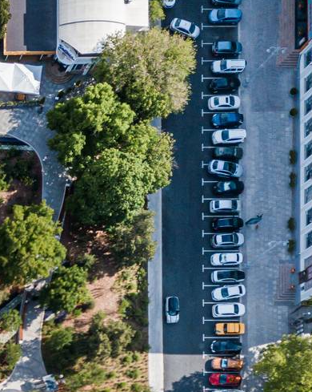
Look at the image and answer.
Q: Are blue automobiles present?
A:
Yes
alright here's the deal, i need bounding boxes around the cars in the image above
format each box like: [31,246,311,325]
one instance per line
[160,0,175,18]
[210,251,243,266]
[165,295,182,324]
[209,197,242,214]
[215,320,245,336]
[211,39,243,55]
[213,268,243,283]
[211,302,244,318]
[208,94,240,109]
[209,7,242,25]
[212,58,245,74]
[209,76,242,93]
[211,285,245,300]
[213,0,242,8]
[212,127,245,144]
[212,232,242,248]
[209,371,242,386]
[211,110,244,128]
[211,160,240,176]
[211,215,244,231]
[211,180,244,195]
[169,15,201,40]
[213,144,243,161]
